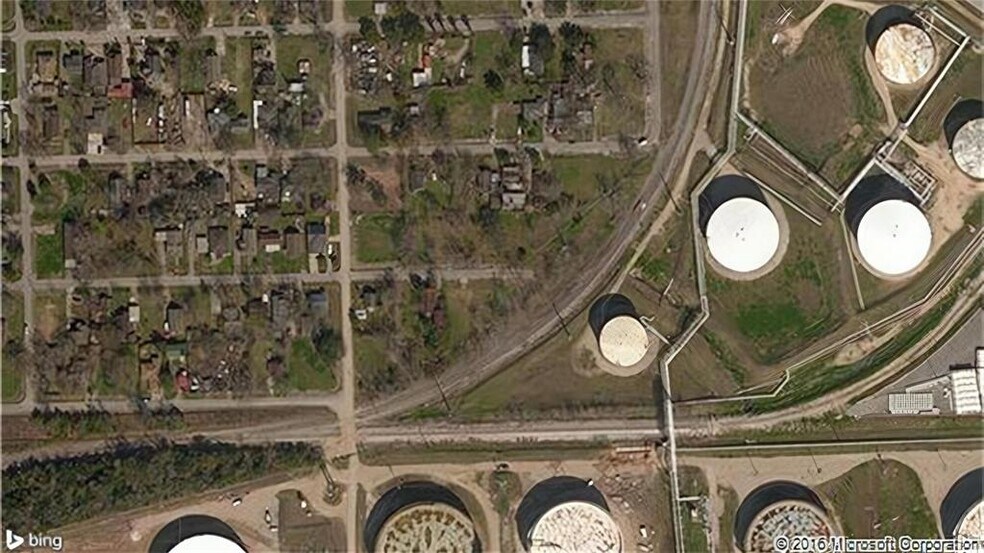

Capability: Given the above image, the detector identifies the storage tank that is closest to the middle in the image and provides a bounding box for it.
[599,314,650,366]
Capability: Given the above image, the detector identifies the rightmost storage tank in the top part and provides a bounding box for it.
[951,117,984,181]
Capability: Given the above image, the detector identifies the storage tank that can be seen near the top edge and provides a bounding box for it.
[874,22,937,84]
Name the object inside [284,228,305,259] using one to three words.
house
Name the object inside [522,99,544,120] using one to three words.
house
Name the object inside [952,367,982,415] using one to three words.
building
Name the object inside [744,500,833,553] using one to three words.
storage tank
